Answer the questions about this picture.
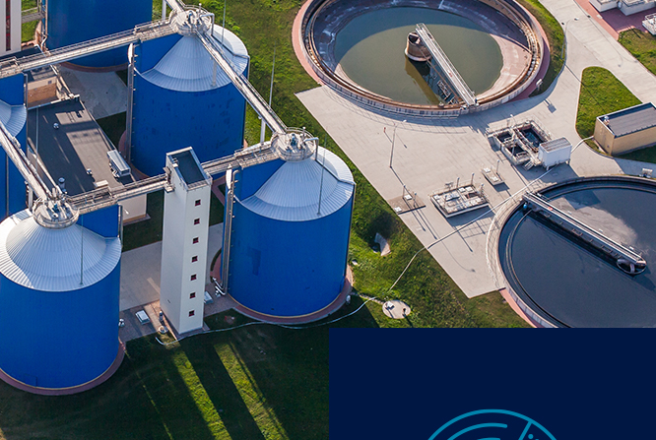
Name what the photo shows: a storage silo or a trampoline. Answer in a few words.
storage silo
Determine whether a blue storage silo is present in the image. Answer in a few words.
Yes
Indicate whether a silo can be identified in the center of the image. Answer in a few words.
Yes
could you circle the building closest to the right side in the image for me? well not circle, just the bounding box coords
[588,100,656,156]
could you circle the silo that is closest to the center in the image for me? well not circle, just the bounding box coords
[216,126,357,322]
